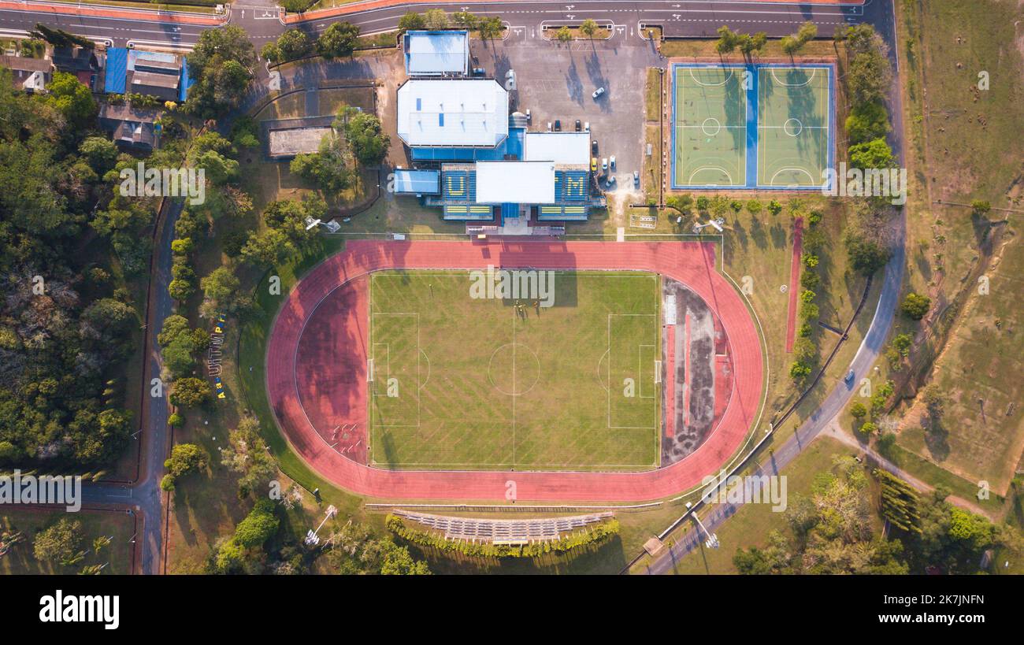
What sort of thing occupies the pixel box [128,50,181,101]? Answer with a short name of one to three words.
house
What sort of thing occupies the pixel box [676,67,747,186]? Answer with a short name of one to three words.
sports court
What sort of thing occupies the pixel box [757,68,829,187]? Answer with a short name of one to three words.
sports court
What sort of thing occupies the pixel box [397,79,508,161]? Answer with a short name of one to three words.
building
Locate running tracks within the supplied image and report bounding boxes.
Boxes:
[265,239,763,500]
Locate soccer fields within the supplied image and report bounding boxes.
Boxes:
[370,269,660,471]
